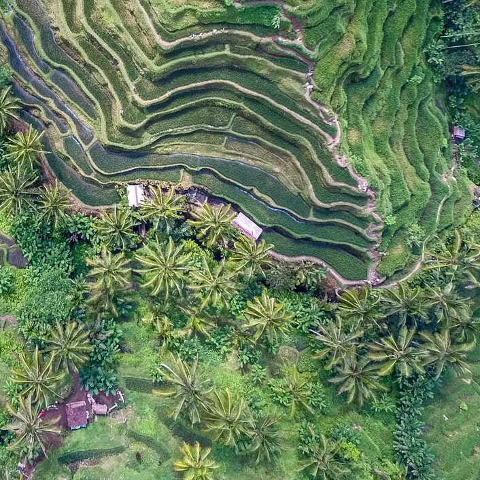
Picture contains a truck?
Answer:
No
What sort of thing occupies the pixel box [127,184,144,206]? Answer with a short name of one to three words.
shed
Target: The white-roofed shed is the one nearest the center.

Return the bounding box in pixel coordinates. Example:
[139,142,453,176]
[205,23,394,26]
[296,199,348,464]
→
[229,212,263,240]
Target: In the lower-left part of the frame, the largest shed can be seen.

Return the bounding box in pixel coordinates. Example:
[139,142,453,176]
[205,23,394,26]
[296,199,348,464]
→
[65,397,90,430]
